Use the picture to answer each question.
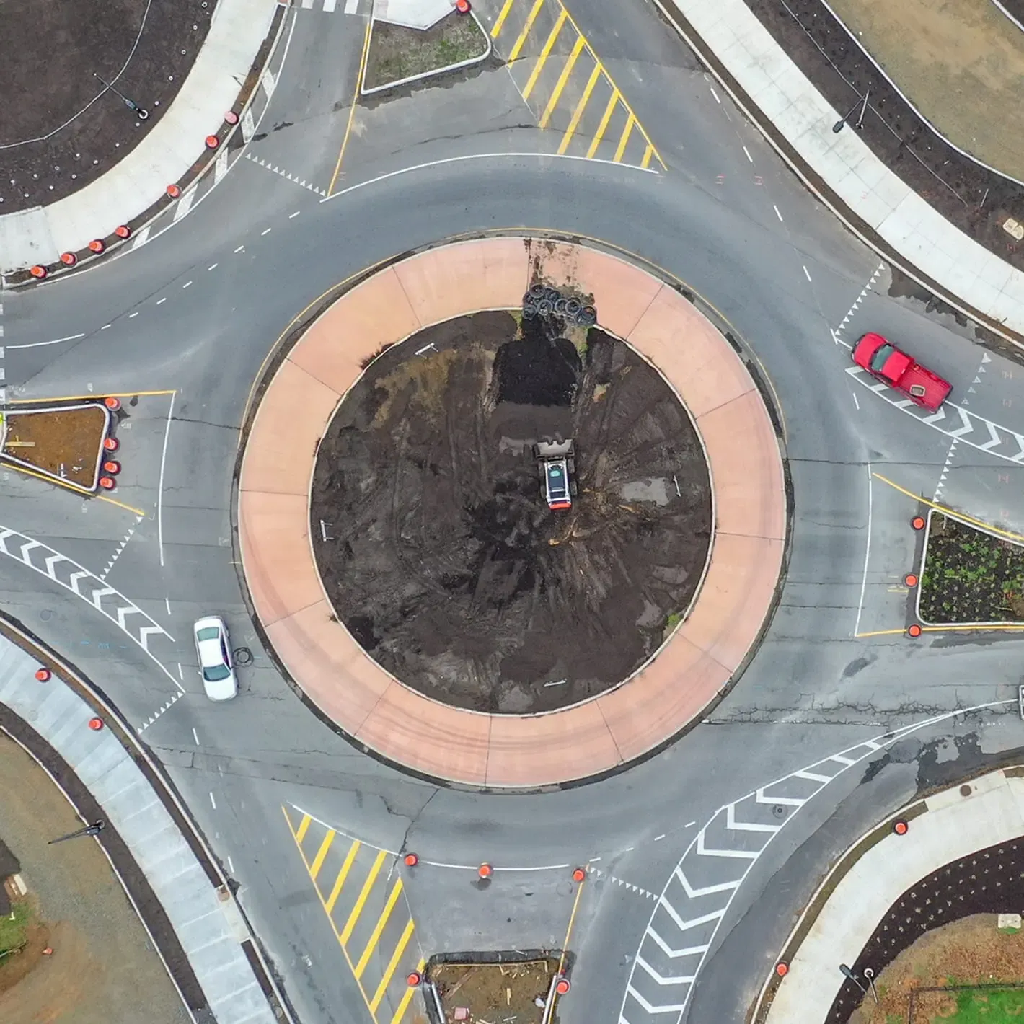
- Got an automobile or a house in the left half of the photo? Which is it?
automobile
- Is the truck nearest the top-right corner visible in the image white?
No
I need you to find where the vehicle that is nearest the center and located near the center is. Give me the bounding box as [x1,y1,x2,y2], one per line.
[530,439,576,508]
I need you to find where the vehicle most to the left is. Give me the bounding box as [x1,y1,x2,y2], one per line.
[194,616,238,702]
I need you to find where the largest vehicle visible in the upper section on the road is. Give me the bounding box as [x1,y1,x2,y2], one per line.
[851,333,956,417]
